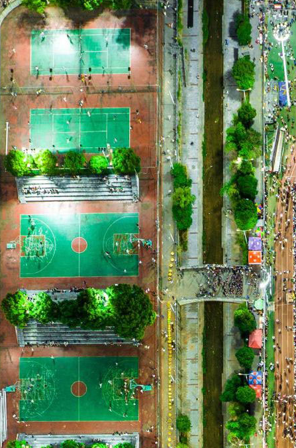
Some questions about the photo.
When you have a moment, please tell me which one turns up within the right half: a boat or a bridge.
bridge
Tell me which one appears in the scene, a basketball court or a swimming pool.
basketball court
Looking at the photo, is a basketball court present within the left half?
Yes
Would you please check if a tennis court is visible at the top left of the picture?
Yes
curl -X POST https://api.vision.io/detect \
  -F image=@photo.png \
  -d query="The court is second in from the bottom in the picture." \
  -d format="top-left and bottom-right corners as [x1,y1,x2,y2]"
[20,213,138,278]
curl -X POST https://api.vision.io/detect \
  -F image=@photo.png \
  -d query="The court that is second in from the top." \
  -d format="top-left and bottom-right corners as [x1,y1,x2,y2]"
[30,102,130,152]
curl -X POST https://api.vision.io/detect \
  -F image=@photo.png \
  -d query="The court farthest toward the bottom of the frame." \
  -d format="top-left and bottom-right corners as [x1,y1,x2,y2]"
[19,356,138,421]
